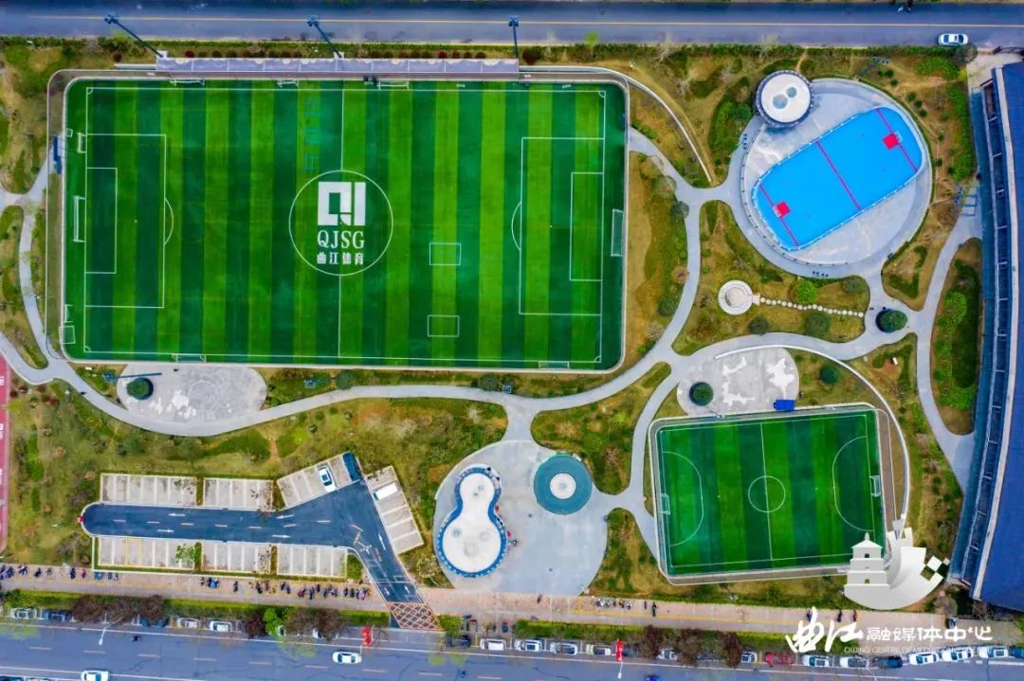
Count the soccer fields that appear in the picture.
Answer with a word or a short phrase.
2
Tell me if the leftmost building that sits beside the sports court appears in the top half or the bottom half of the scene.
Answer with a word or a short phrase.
top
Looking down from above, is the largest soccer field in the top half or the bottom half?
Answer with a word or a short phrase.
top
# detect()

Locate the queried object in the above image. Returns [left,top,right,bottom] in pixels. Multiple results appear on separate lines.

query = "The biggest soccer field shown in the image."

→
[44,69,629,374]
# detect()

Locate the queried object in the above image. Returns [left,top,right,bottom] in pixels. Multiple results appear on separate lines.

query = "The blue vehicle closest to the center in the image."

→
[341,452,361,480]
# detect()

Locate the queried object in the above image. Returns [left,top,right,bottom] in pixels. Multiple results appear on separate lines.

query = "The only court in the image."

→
[754,104,924,251]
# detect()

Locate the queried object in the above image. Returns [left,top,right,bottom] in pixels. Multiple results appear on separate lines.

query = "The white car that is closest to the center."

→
[371,482,400,501]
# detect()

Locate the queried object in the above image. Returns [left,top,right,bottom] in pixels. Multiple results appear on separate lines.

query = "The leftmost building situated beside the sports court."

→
[750,67,815,131]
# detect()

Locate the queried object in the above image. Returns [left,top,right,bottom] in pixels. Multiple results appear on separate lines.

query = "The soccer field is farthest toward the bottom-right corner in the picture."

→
[649,401,899,587]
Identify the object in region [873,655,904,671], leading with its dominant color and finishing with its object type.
blue car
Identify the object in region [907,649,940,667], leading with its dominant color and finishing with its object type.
white car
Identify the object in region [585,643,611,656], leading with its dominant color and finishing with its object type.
white vehicle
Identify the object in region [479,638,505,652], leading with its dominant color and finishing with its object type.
white car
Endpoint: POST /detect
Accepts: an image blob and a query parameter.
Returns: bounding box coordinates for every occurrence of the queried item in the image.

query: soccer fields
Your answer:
[649,401,899,587]
[44,69,629,374]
